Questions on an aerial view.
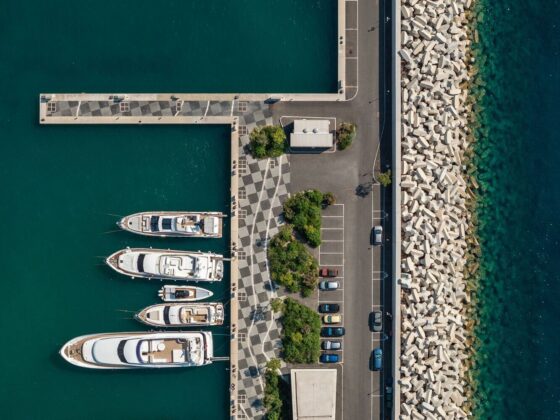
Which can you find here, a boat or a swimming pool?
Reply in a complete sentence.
Of the two, only a boat appears.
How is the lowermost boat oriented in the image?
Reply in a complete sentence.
I'd say the lowermost boat is aligned horizontally in the picture.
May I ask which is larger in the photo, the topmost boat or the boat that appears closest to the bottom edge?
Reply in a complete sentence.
Of the two, the boat that appears closest to the bottom edge is bigger, while the topmost boat is smaller.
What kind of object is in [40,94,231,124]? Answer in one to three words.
pier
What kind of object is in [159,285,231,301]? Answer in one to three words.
boat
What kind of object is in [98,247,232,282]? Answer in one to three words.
boat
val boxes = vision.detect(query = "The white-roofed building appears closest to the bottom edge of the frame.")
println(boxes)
[291,369,337,420]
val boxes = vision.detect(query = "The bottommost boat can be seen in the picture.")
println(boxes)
[60,327,232,370]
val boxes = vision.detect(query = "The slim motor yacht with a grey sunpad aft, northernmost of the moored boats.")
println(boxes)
[106,211,229,240]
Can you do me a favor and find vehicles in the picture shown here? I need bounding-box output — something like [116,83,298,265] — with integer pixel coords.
[374,348,383,370]
[374,311,383,331]
[321,341,341,351]
[323,316,341,325]
[320,326,345,337]
[320,268,339,277]
[318,304,340,314]
[320,281,341,290]
[374,225,383,244]
[319,353,340,363]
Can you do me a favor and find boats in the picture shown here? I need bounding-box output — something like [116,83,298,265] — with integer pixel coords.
[216,305,223,319]
[215,260,223,278]
[60,327,232,370]
[98,247,232,282]
[159,285,231,301]
[106,211,229,240]
[118,296,233,328]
